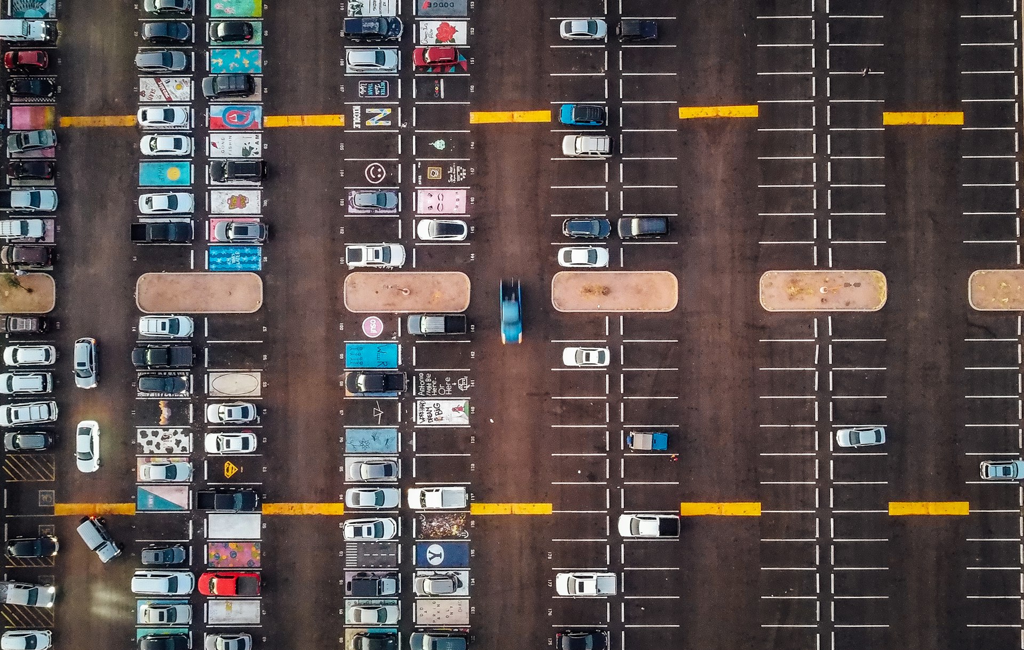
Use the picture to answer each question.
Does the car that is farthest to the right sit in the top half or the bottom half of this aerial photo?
bottom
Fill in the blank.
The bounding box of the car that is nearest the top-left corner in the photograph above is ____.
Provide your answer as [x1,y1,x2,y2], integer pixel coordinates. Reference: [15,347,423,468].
[0,16,50,42]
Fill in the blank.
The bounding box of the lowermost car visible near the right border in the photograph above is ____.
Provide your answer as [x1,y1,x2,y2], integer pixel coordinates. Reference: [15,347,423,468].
[977,460,1024,483]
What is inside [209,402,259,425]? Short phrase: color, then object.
white car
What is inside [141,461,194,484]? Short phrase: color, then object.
white car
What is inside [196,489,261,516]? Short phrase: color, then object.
black truck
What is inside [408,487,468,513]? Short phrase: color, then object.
white truck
